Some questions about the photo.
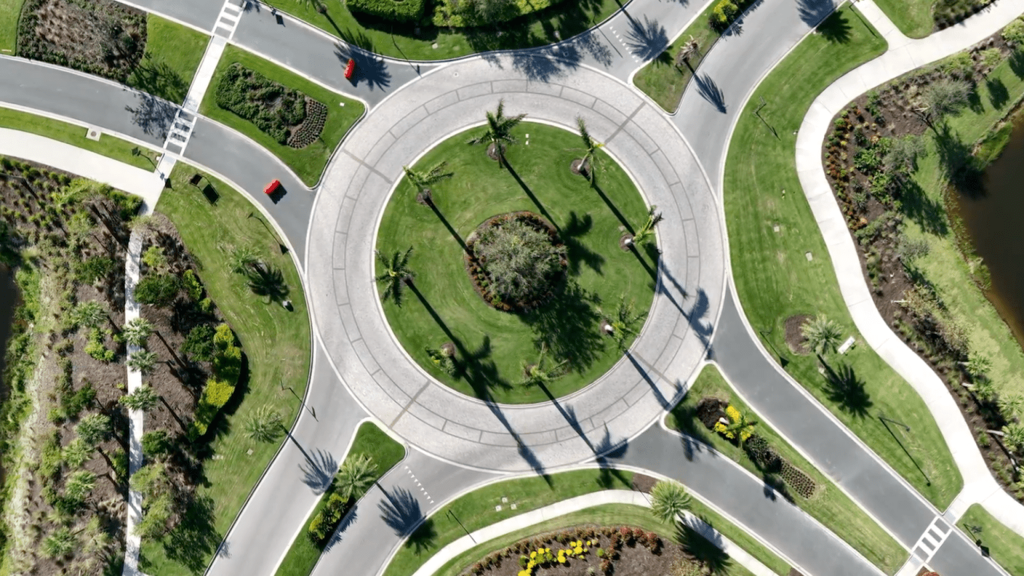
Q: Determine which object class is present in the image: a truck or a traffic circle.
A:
traffic circle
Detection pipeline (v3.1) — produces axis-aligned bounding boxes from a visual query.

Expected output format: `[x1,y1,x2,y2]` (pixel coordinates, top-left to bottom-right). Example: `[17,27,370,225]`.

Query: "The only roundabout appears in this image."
[307,58,726,474]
